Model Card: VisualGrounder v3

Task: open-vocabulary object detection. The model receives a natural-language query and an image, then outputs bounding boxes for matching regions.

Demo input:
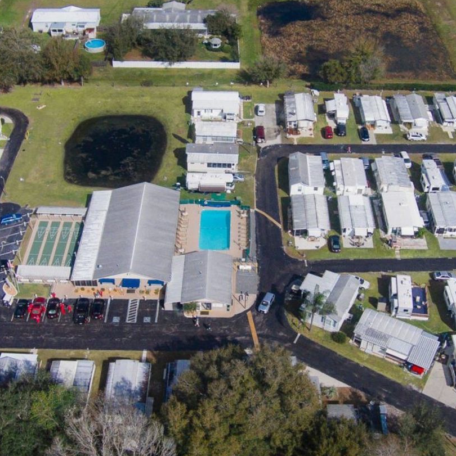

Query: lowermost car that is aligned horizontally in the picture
[404,363,435,377]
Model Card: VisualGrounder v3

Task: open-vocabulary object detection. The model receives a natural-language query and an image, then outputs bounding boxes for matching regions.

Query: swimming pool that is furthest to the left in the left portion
[84,42,107,55]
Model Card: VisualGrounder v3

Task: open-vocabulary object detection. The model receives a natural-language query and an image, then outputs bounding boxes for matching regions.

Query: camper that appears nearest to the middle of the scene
[187,172,233,193]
